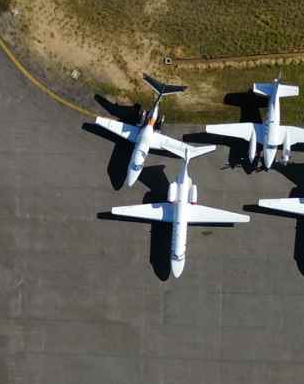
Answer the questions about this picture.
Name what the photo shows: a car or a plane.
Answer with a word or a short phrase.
plane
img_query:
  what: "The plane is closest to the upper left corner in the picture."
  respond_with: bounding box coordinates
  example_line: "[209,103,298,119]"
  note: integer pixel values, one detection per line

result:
[94,73,198,186]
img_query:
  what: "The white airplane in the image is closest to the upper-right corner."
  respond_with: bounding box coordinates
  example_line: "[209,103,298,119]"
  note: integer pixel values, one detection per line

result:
[206,72,304,168]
